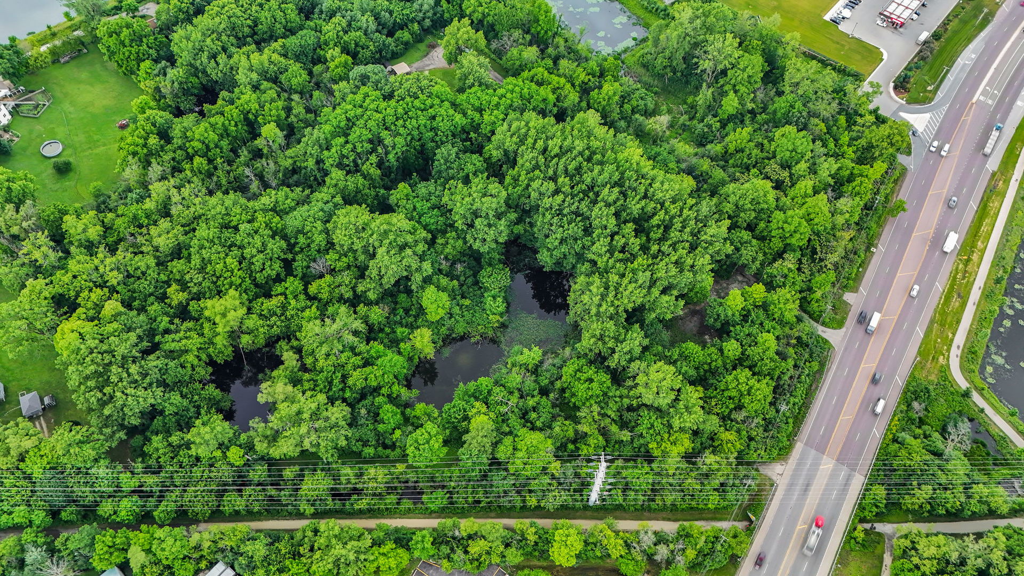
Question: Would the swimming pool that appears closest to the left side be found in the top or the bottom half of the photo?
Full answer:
You can find the swimming pool that appears closest to the left side in the top half.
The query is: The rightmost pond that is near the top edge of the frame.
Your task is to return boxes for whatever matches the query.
[545,0,650,54]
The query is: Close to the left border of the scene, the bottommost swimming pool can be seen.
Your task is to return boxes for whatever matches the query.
[40,139,65,159]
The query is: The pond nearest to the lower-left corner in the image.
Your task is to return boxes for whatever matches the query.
[206,339,288,440]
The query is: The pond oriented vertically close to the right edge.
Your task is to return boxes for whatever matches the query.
[980,244,1024,418]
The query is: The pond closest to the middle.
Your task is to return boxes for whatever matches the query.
[404,240,581,410]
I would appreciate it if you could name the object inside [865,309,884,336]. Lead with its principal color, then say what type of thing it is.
white vehicle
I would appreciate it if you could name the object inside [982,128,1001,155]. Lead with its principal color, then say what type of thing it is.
white vehicle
